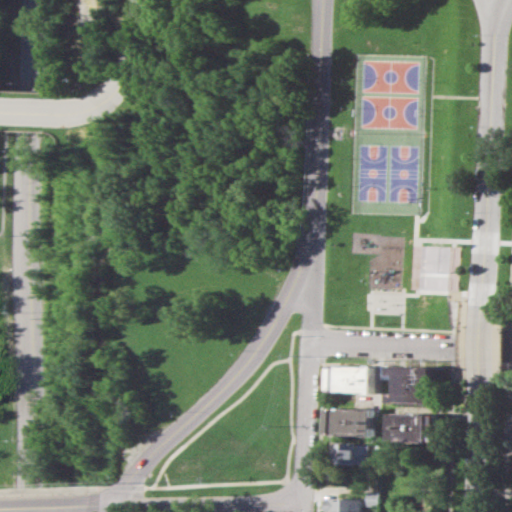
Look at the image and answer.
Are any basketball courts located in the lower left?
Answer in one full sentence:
No, I can find no basketball court in the lower left.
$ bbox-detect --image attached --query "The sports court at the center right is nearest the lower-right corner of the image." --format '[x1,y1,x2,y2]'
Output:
[412,246,462,292]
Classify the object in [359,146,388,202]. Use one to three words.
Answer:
basketball court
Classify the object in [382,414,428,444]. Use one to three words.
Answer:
building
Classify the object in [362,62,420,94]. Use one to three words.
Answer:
sports court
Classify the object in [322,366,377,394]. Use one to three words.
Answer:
building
